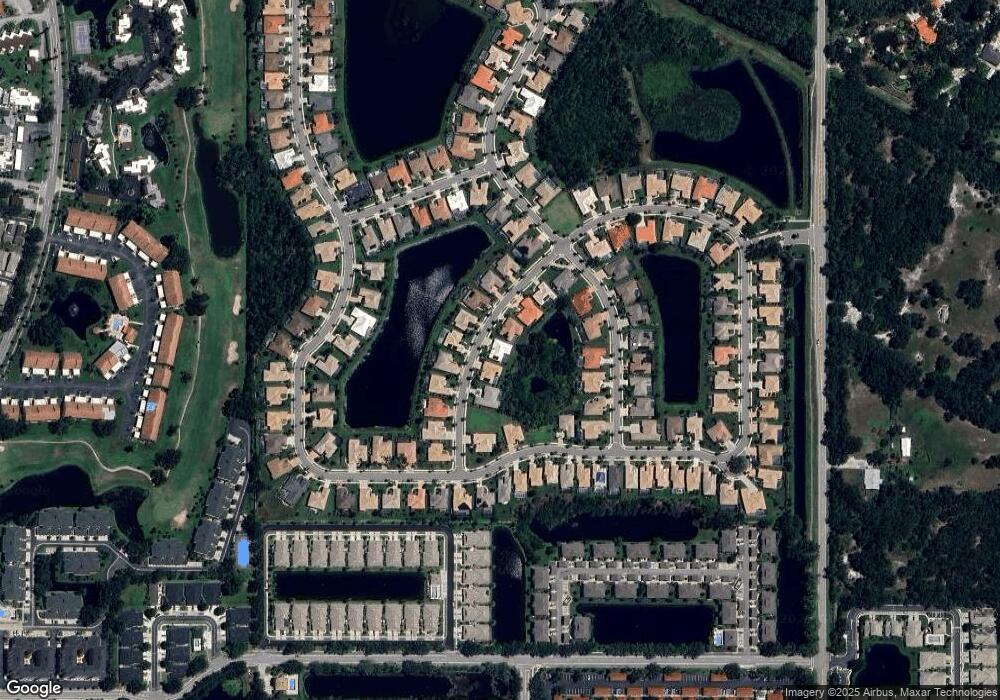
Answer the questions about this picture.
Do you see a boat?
No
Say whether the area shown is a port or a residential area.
residential area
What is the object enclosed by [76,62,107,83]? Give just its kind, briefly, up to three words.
building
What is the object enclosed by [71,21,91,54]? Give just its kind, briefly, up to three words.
tennis court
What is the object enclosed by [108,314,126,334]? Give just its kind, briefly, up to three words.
swimming pool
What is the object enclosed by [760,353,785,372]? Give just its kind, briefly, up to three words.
house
